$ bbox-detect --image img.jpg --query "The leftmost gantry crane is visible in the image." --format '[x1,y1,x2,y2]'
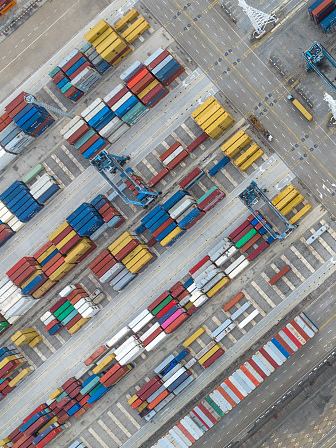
[95,149,171,210]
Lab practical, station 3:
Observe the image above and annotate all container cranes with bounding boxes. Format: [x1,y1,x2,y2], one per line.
[239,181,302,241]
[95,149,171,210]
[300,37,336,94]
